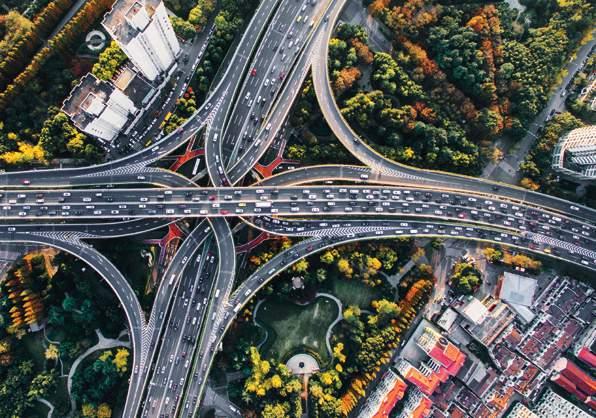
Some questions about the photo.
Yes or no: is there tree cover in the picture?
Yes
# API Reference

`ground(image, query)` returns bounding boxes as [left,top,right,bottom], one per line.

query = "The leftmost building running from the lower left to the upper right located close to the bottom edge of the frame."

[361,368,409,418]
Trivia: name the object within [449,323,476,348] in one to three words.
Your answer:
building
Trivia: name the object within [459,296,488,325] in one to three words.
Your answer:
building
